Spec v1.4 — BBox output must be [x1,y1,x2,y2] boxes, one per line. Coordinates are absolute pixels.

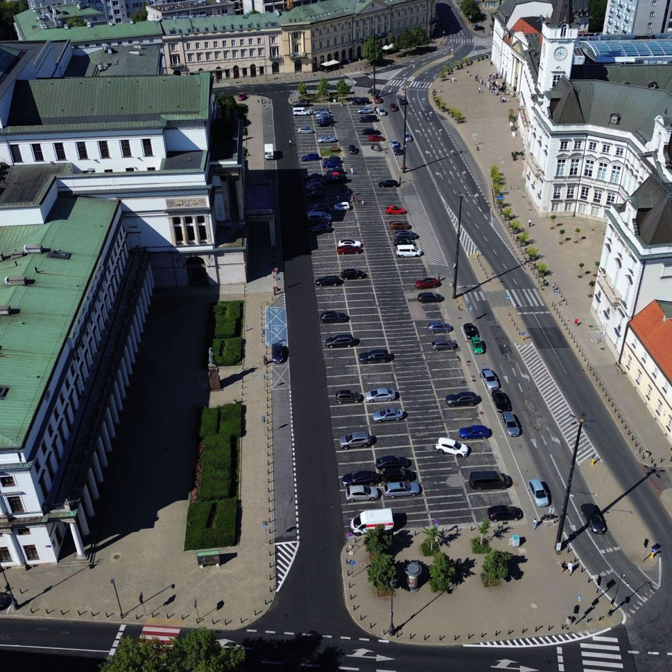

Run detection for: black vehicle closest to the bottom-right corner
[582,502,606,534]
